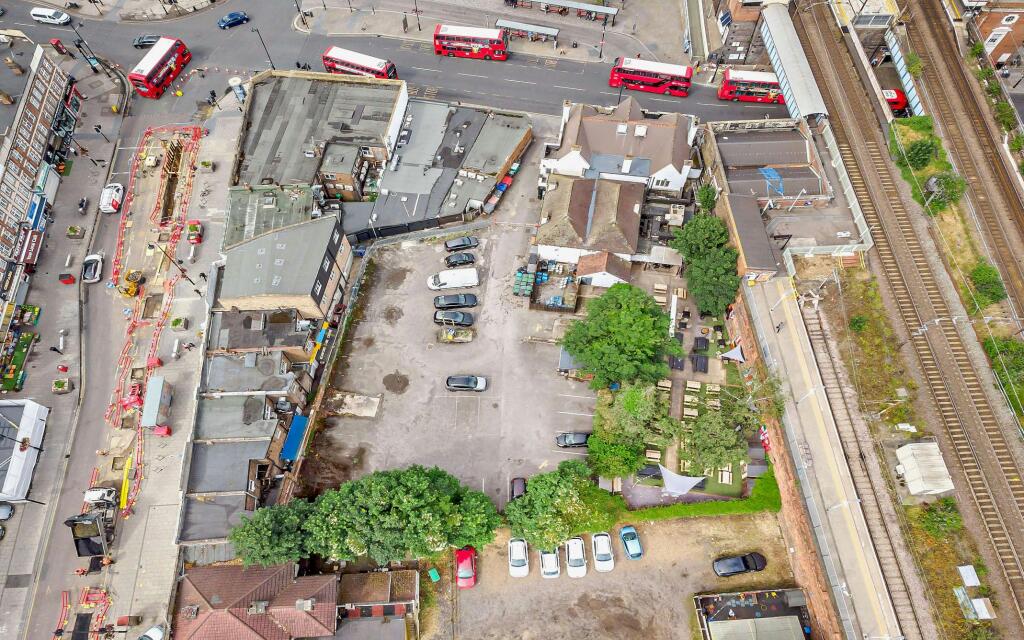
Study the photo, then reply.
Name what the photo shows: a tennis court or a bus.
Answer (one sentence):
The image shows a bus.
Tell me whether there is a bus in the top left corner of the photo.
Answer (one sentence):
Yes, the scene does show a bus in the top left corner of the photo.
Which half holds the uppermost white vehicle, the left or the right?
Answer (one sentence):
The uppermost white vehicle sits on the left side.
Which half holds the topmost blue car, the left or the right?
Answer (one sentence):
The topmost blue car appears in the left half of the scene.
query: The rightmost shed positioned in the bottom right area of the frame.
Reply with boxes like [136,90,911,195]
[886,443,954,498]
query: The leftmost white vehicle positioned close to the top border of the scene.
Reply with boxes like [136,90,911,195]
[24,2,74,28]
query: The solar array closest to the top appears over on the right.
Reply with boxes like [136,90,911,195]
[716,8,729,44]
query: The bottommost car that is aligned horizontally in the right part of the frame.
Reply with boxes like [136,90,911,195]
[711,551,769,580]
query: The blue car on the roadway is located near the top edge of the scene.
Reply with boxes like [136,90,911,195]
[216,10,249,31]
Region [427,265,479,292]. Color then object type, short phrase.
white vehicle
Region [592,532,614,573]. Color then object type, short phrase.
white car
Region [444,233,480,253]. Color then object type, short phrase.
gray car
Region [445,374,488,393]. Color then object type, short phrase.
gray car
